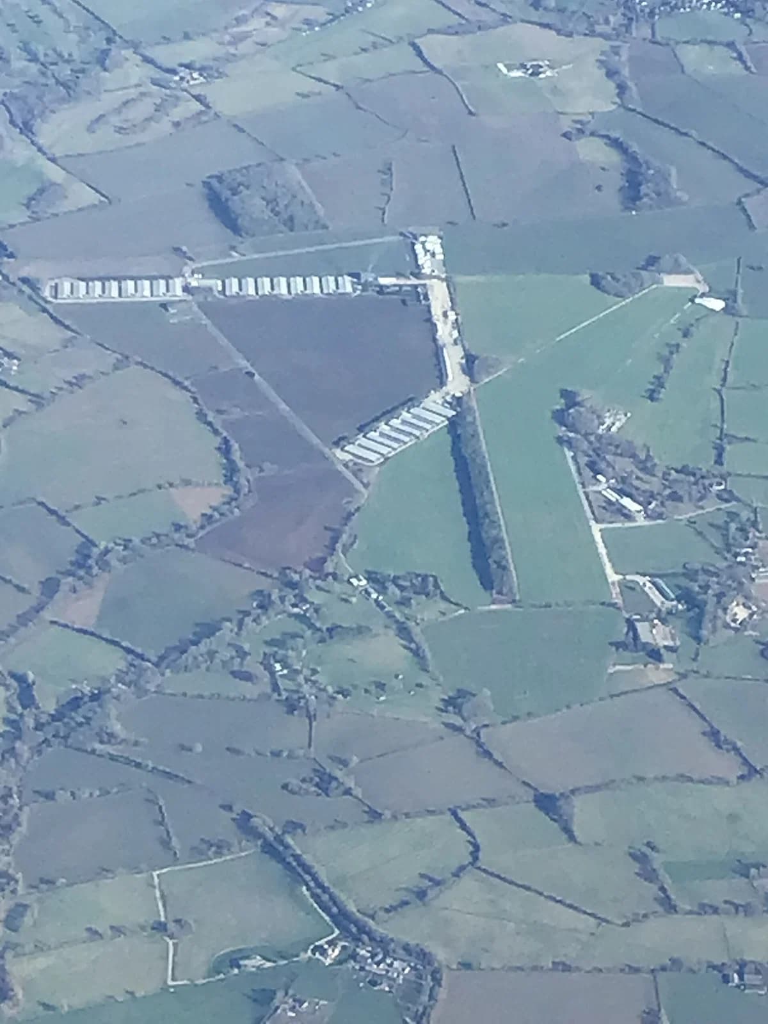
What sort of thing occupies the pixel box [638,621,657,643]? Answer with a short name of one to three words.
barn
